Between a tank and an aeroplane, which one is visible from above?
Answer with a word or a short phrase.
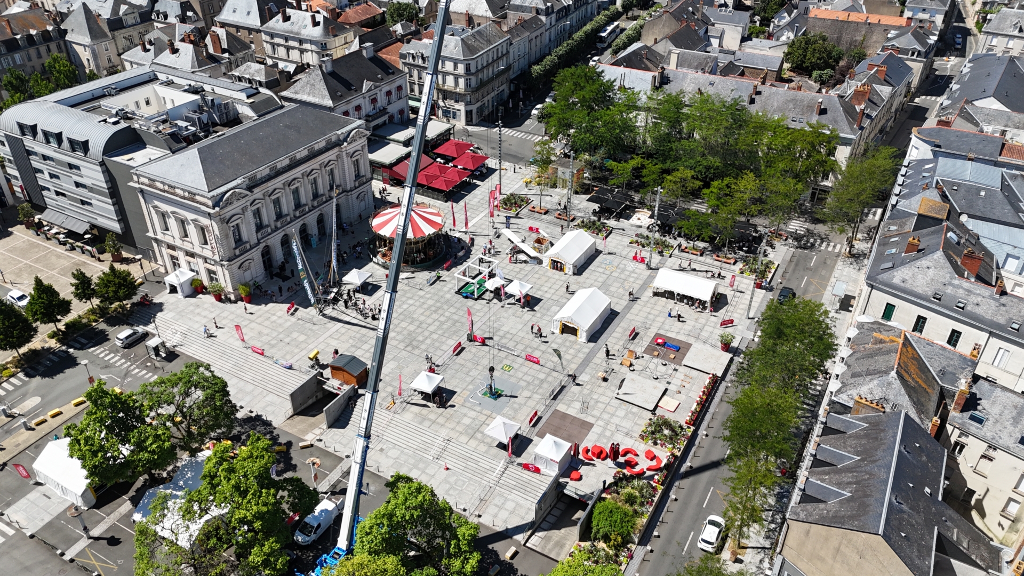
aeroplane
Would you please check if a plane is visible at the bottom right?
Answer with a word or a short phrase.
No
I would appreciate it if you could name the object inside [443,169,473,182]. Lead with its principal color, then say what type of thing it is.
red umbrella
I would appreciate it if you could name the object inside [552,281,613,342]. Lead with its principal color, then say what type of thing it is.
white tent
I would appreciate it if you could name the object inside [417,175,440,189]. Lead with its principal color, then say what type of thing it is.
red umbrella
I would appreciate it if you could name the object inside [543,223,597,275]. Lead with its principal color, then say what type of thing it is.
white tent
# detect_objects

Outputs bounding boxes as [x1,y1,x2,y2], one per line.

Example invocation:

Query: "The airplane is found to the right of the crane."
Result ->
[500,230,552,261]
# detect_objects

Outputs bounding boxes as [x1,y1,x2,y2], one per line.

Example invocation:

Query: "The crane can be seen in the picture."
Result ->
[260,0,498,576]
